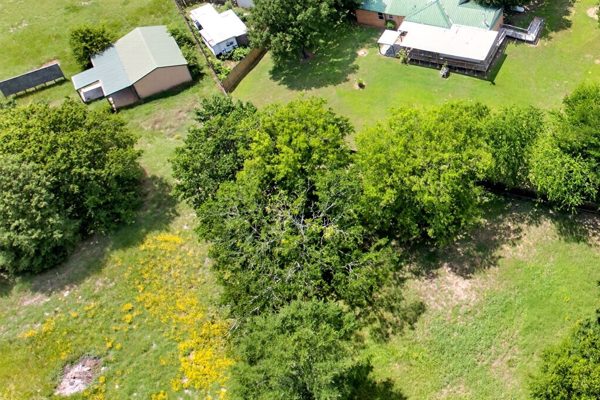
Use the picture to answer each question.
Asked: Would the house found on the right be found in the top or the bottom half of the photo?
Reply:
top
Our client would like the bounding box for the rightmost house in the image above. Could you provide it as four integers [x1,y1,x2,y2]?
[359,0,548,76]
